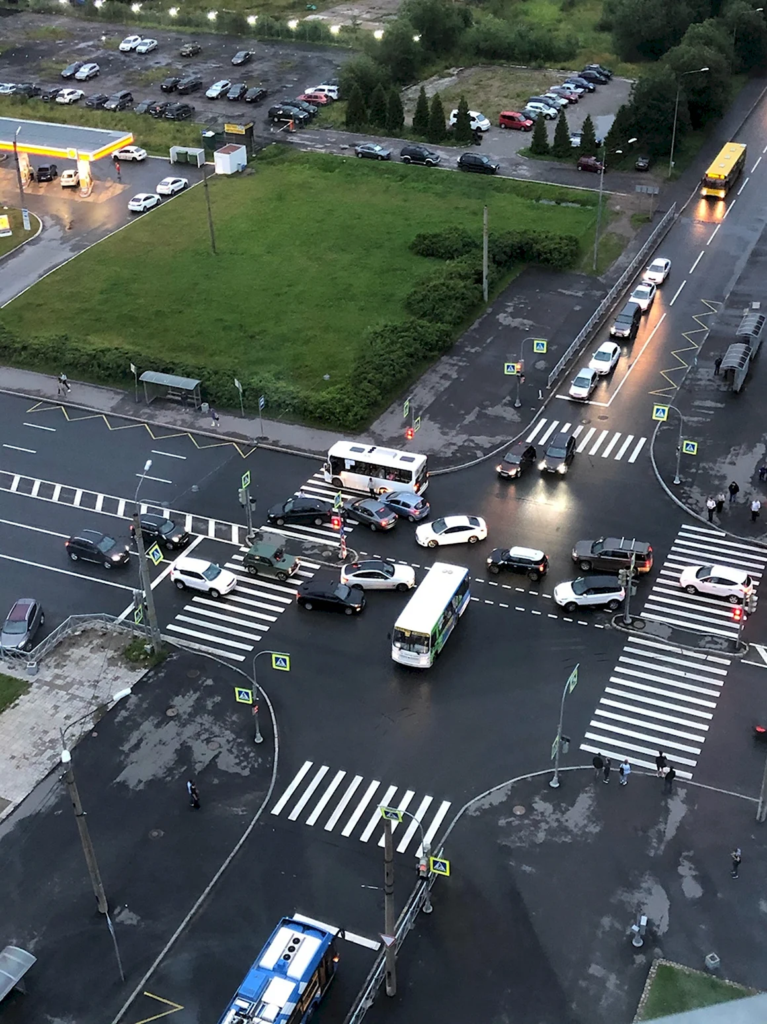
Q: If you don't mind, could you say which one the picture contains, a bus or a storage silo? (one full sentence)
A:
I can see a bus in this picture.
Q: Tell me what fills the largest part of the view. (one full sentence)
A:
Most of the picture is covered by paved ground.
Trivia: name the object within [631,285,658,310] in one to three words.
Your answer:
car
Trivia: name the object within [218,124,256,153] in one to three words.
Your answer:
shed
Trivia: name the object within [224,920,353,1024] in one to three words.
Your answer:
bus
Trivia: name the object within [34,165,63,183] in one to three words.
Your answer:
vehicle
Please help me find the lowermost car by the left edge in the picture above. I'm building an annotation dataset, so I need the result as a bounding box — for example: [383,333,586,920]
[0,592,45,650]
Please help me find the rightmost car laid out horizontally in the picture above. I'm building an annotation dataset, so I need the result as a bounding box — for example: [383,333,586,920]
[680,564,755,602]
